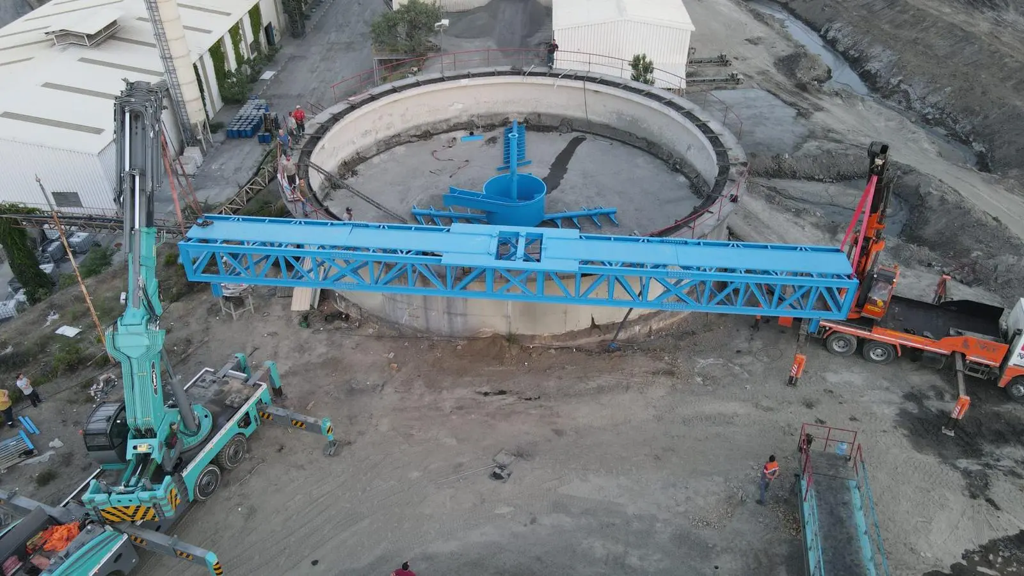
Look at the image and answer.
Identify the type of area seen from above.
industrial area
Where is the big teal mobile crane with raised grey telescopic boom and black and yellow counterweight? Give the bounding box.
[0,84,341,576]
